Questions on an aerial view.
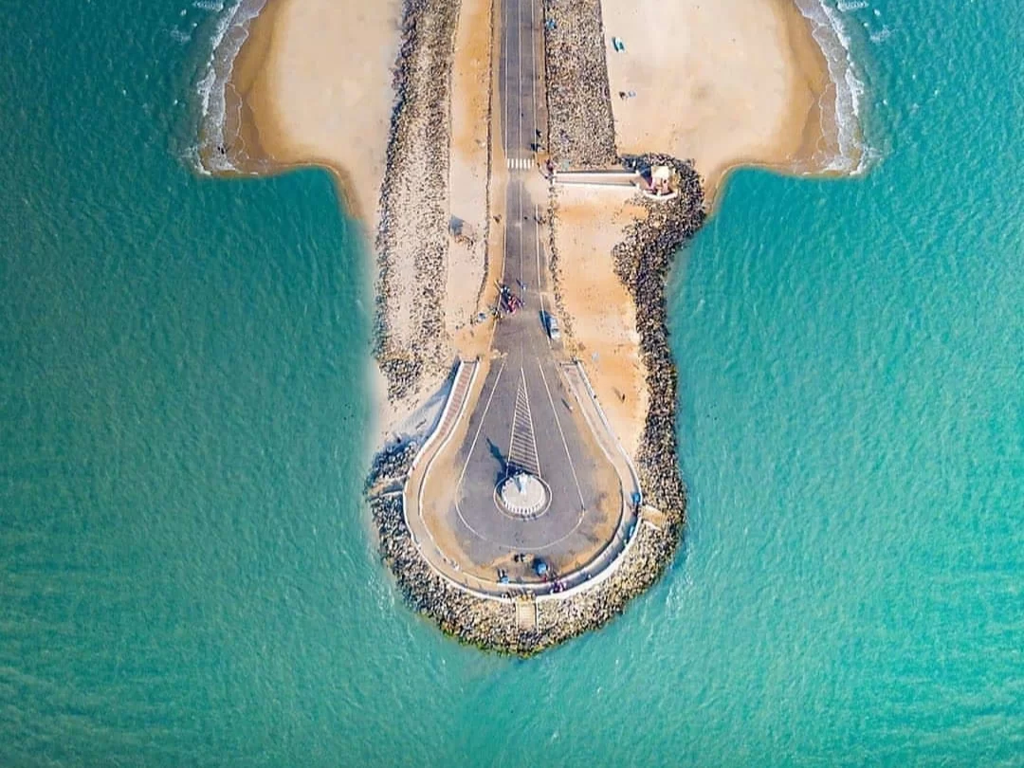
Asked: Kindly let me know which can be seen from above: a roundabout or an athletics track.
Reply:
roundabout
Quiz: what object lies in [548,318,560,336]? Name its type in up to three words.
vehicle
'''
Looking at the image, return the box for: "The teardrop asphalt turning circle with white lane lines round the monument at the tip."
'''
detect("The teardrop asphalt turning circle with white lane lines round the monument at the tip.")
[445,346,617,581]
